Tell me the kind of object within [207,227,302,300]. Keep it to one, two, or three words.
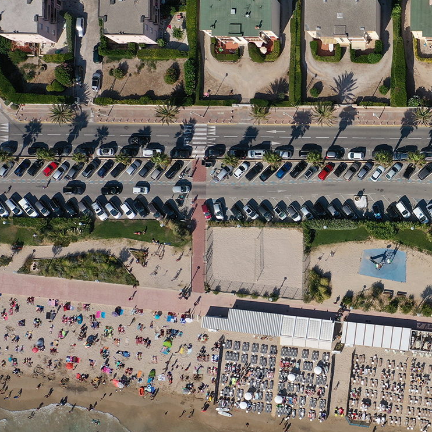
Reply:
sports court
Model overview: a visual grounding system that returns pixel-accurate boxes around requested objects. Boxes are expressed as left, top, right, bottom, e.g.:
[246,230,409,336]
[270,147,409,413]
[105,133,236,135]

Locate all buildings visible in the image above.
[201,309,335,350]
[305,0,385,51]
[99,0,169,44]
[410,0,432,51]
[341,322,432,352]
[0,0,68,42]
[200,0,281,50]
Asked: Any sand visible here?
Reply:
Yes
